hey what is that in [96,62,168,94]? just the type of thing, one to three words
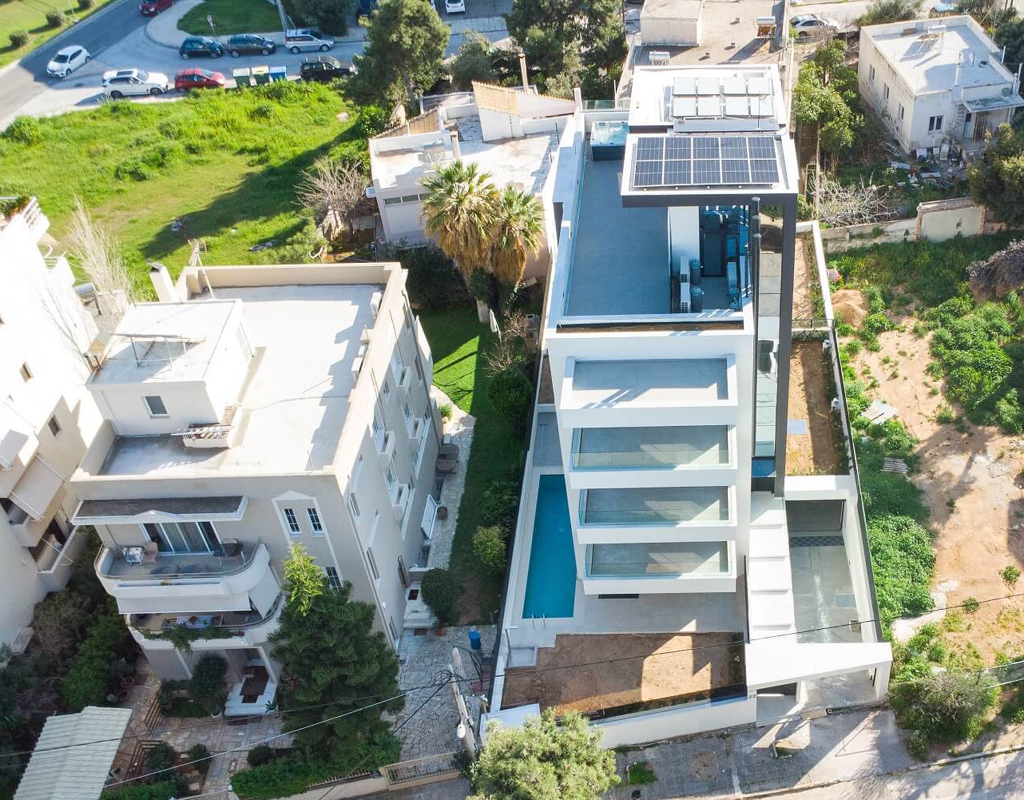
car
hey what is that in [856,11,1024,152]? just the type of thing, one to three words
house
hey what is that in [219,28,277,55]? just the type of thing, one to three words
car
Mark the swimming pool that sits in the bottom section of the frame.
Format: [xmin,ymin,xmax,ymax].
[515,470,578,628]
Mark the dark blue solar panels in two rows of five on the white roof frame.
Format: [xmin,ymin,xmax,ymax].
[635,137,779,191]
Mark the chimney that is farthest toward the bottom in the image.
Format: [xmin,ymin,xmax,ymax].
[130,242,172,297]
